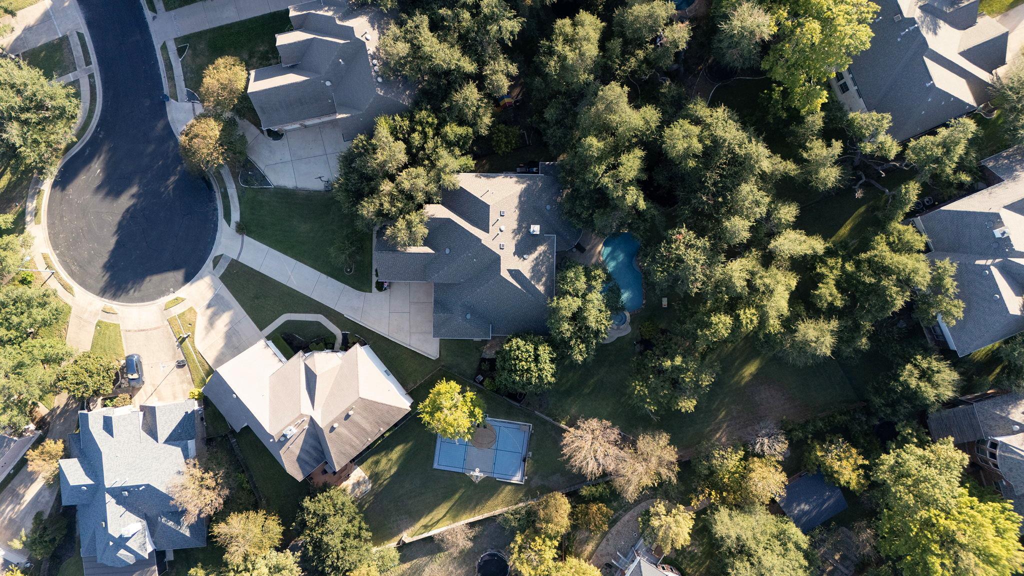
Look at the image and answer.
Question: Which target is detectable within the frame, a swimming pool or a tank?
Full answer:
Of the two, only a swimming pool appears.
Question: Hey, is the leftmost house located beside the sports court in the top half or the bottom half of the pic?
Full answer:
The leftmost house located beside the sports court is in the bottom half of the image.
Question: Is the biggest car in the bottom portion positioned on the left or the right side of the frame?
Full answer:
The biggest car in the bottom portion appears in the left half of the scene.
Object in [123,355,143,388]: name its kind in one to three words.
car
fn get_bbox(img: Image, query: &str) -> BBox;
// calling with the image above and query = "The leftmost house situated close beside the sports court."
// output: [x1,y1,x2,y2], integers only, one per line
[202,338,417,482]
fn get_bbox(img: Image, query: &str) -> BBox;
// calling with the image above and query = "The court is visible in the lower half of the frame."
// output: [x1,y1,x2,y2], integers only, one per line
[433,416,532,484]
